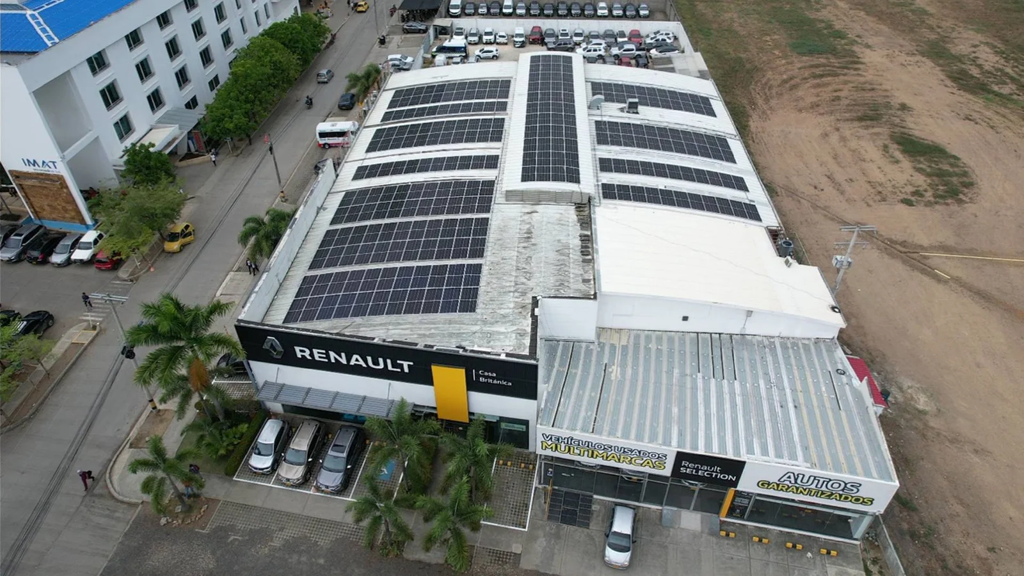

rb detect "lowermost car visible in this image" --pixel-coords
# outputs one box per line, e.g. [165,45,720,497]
[603,499,639,568]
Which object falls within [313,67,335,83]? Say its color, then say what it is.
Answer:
gray car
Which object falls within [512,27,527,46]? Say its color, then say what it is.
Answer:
white car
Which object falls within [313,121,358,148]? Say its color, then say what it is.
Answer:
white vehicle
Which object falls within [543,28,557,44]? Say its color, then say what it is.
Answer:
gray car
